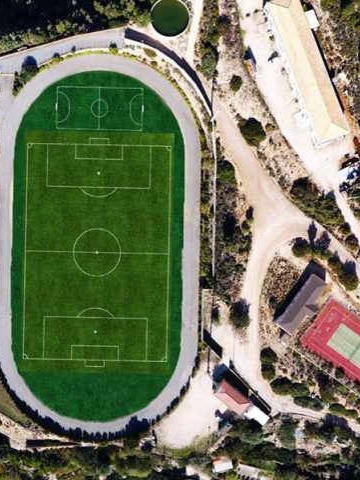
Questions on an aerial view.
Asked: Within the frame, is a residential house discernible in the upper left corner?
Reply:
No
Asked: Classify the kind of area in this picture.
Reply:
sports ground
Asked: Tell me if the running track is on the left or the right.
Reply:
left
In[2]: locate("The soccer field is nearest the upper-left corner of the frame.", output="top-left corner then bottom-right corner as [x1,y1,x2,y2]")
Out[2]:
[54,84,145,132]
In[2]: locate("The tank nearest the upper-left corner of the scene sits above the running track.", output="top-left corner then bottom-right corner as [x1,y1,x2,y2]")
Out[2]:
[150,0,190,37]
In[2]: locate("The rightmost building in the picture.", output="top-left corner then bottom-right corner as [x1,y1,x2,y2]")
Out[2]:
[336,160,360,185]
